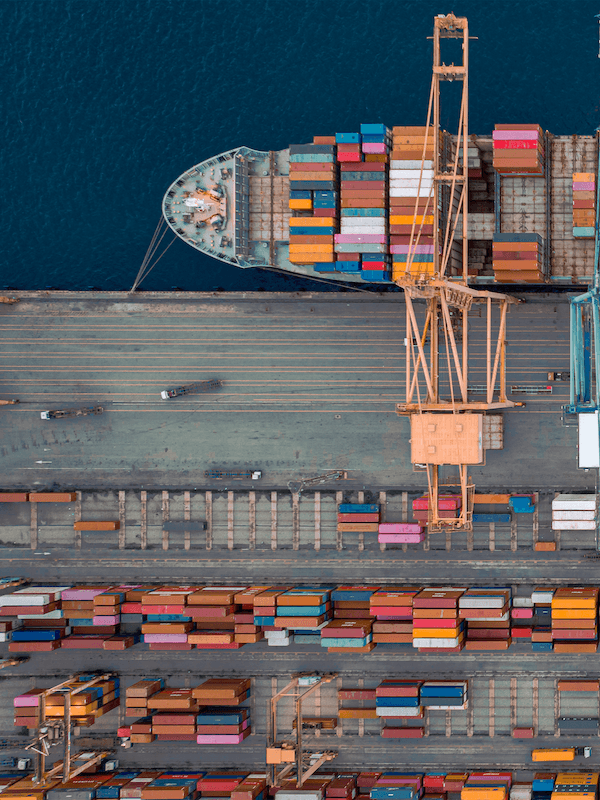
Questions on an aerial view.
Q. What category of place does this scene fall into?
port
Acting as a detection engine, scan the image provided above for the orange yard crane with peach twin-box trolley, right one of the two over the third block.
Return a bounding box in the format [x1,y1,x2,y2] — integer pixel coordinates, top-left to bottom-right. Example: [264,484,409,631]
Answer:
[265,677,332,792]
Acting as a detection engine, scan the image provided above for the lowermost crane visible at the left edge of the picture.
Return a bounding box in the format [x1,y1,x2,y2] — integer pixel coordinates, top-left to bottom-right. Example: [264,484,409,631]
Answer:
[26,676,116,790]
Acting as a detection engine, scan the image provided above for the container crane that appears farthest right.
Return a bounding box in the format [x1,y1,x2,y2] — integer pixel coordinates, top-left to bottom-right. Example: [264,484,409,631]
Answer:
[560,30,600,532]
